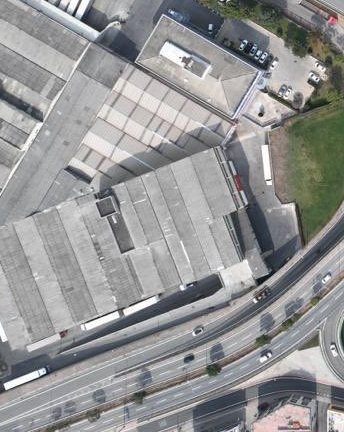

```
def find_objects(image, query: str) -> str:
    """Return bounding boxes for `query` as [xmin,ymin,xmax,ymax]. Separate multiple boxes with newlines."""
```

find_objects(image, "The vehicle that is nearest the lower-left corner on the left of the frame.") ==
[1,365,52,391]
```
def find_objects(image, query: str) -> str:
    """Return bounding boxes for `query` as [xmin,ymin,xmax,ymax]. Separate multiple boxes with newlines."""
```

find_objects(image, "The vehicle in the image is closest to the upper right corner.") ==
[298,0,337,23]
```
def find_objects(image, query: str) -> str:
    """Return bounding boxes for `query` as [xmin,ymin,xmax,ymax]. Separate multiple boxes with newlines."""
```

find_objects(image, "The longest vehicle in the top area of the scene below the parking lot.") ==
[259,143,274,184]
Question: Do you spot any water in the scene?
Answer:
No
